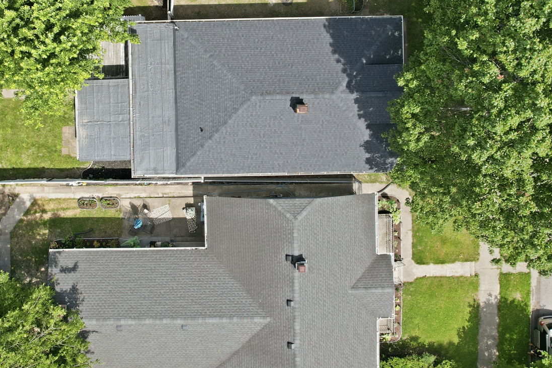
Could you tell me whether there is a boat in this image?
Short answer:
No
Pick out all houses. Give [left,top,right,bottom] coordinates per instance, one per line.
[77,14,406,178]
[38,193,406,368]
